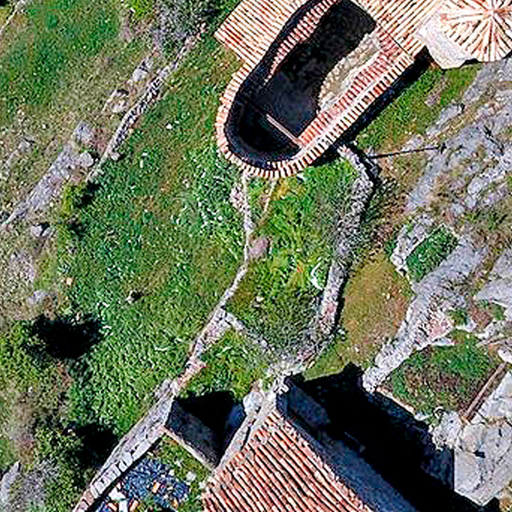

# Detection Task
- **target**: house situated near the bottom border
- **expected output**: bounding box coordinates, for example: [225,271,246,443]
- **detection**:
[202,365,433,512]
